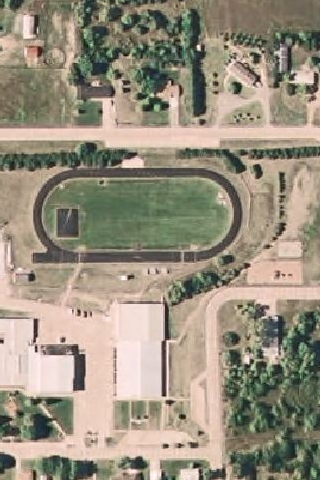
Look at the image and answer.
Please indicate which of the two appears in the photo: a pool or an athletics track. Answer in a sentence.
The image shows an athletics track.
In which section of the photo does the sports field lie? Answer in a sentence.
You can find the sports field in the center area of the picture.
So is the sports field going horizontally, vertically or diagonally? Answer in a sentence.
The sports field is oriented horizontally.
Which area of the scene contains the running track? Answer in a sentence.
The running track is located in the center region of the scene.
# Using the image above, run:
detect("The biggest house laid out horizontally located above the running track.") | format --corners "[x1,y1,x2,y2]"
[78,84,114,98]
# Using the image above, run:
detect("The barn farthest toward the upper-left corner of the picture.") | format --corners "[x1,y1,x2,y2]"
[23,14,37,39]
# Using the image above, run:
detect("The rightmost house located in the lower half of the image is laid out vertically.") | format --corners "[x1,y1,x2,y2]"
[264,316,279,356]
